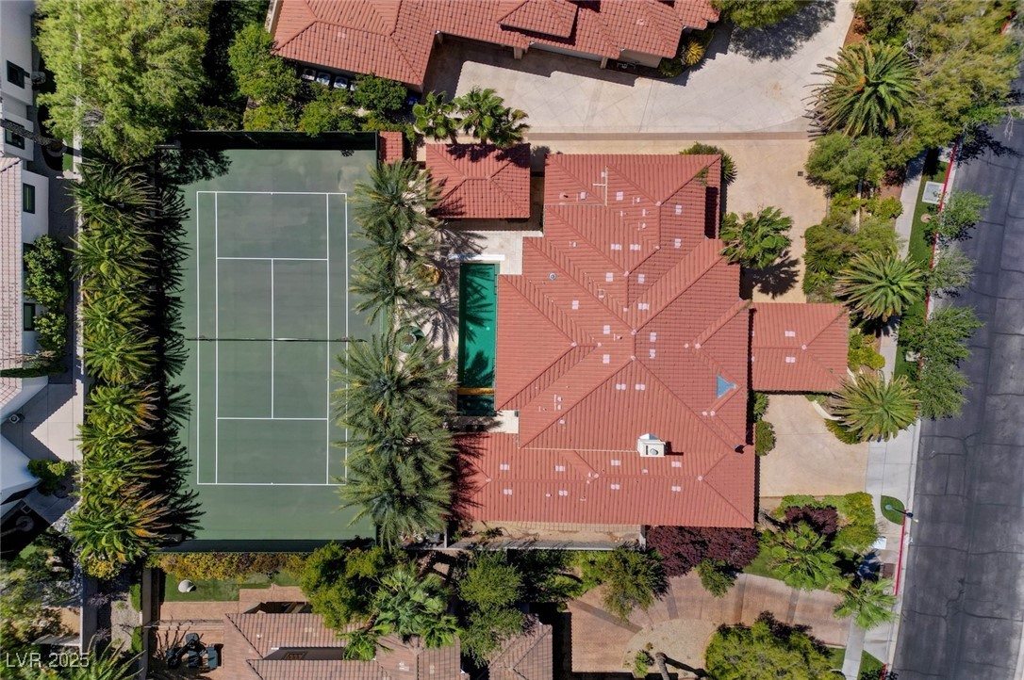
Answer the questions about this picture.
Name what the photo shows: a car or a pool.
pool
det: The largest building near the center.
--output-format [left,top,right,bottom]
[454,151,756,528]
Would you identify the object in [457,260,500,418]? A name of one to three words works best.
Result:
swimming pool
